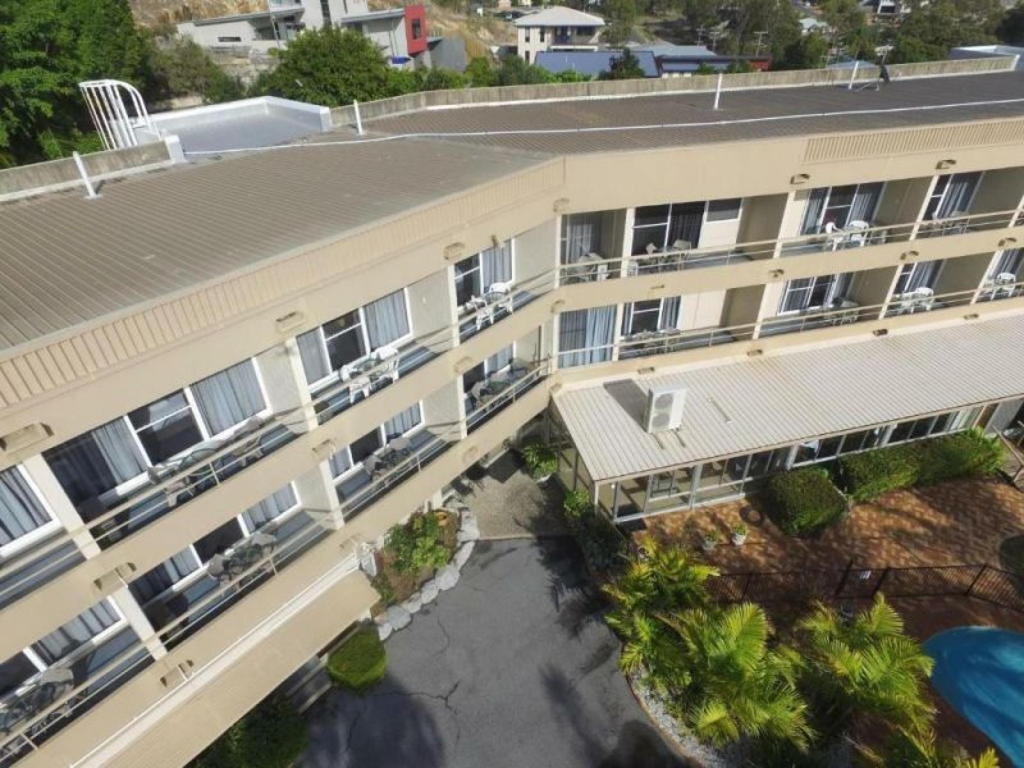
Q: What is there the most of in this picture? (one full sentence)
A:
The bulk of the photo consists of buildings.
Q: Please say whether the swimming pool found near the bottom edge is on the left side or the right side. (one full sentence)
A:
You can find the swimming pool found near the bottom edge on the right side of the picture.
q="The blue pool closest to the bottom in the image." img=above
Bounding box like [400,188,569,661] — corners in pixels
[920,623,1024,768]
